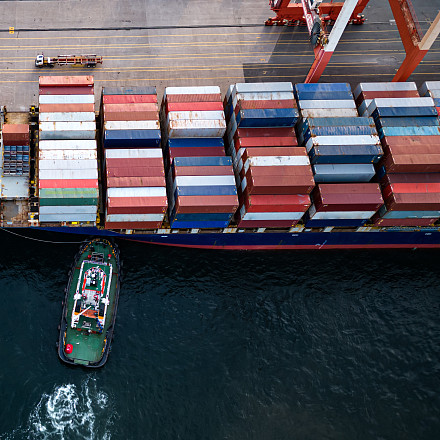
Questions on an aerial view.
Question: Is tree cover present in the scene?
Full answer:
No, there is no tree cover in the image.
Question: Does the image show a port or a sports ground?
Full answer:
It's a port.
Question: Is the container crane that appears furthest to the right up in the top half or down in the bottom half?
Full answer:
The container crane that appears furthest to the right sits in the top half of the picture.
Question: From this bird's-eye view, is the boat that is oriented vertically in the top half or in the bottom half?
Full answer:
You can find the boat that is oriented vertically in the bottom half.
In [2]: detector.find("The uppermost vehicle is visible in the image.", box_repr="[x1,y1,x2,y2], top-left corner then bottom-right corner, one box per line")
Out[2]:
[34,52,104,69]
